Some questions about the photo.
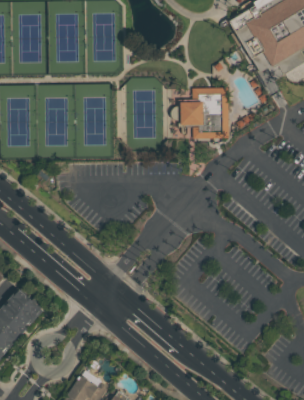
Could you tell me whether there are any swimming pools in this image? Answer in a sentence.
Yes, a swimming pool can be made out from above.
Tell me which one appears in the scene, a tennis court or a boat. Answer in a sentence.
I can see a tennis court in this picture.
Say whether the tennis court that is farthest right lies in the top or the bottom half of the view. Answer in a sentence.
The tennis court that is farthest right is in the top half of the image.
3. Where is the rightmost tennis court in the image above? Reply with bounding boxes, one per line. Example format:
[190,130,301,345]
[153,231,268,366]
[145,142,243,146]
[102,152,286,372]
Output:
[126,77,162,150]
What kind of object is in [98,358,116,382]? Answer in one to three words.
swimming pool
